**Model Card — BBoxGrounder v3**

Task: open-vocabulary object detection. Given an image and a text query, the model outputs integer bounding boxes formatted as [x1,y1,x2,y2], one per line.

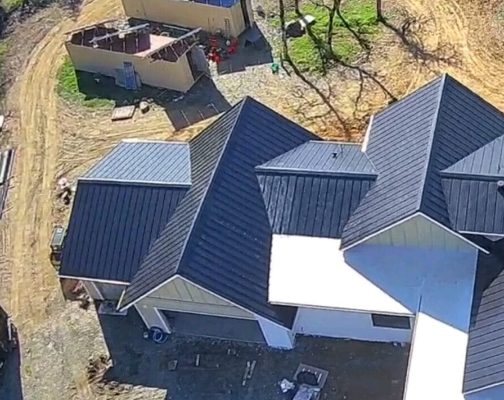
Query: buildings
[57,73,504,400]
[64,15,215,91]
[122,0,255,36]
